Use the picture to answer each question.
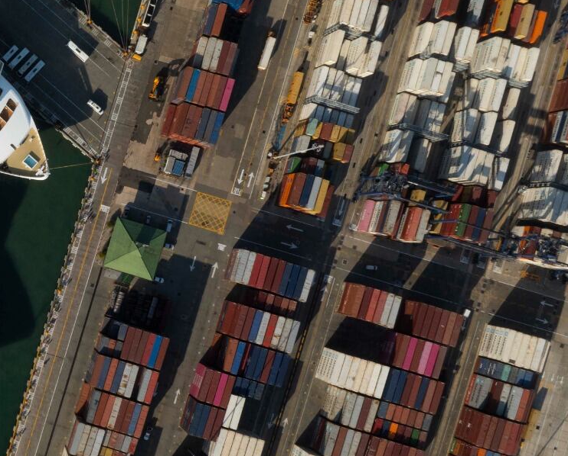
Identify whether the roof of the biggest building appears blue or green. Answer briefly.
green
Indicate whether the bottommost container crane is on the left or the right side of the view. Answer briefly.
right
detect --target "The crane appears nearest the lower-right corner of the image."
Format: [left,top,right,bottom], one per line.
[472,210,568,263]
